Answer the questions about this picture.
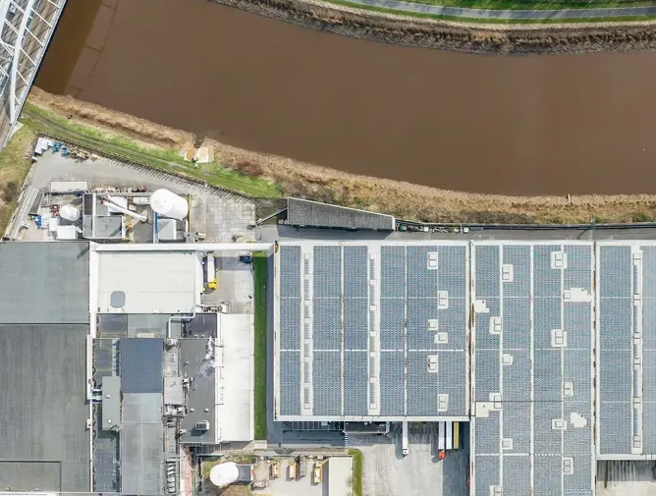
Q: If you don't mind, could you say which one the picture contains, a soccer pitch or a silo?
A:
silo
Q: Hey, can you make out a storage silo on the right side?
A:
No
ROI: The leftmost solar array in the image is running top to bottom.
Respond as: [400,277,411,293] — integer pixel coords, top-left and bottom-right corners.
[280,246,301,413]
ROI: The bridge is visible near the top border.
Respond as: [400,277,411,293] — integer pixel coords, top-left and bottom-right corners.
[0,0,67,177]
